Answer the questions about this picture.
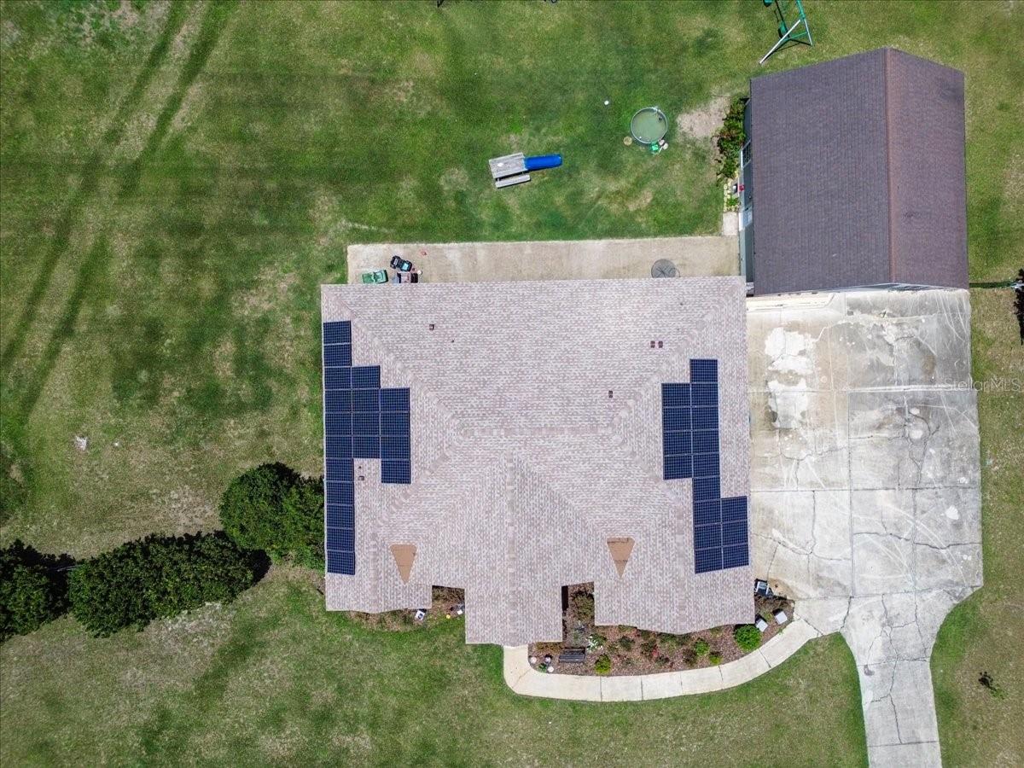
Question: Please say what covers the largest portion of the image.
grass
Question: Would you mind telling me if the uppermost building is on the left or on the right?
right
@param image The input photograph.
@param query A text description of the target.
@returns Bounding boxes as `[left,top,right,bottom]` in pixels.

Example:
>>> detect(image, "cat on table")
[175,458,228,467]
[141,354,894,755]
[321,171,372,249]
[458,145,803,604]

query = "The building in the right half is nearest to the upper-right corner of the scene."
[737,46,969,296]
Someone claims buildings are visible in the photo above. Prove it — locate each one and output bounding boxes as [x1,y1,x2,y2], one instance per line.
[737,46,969,296]
[319,277,753,651]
